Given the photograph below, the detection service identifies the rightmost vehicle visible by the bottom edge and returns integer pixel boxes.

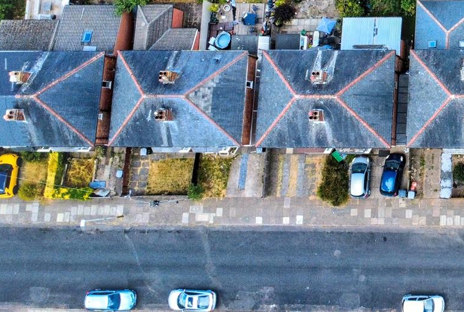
[401,292,447,312]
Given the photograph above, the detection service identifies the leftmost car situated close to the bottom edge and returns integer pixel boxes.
[82,286,140,312]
